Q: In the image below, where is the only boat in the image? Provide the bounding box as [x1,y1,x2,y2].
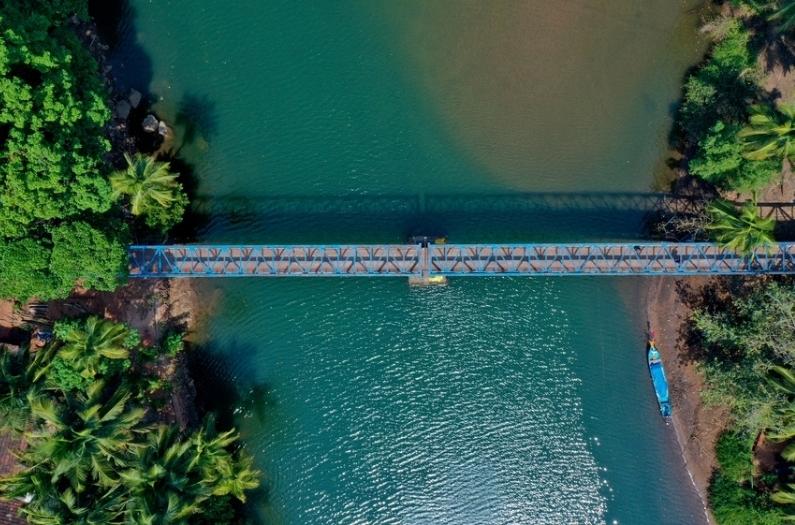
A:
[642,320,672,422]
